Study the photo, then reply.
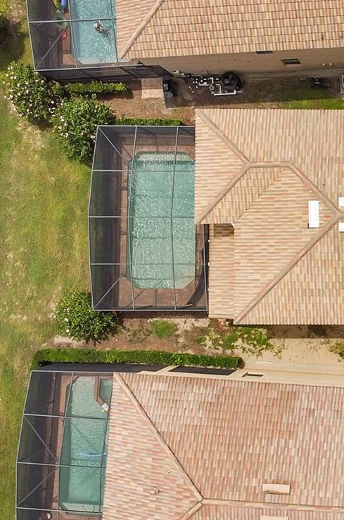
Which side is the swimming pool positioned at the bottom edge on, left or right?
left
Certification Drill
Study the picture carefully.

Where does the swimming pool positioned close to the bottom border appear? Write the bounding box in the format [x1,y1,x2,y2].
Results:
[55,374,111,520]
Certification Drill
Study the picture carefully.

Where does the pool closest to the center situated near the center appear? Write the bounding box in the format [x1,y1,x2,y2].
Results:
[121,146,201,294]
